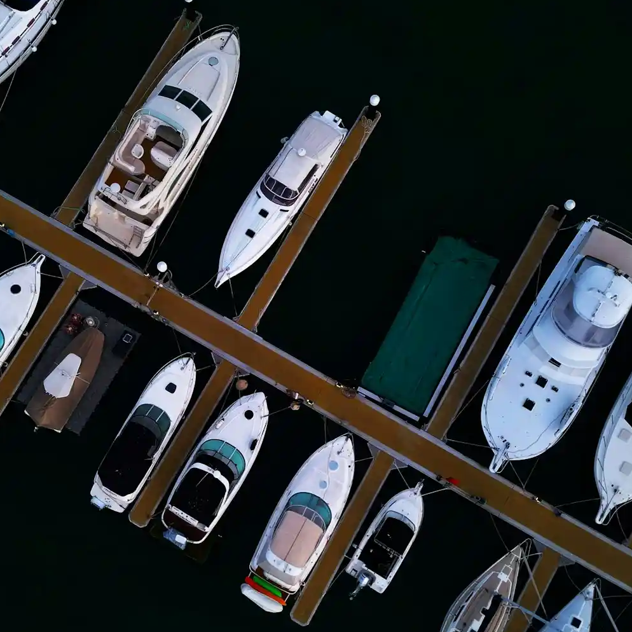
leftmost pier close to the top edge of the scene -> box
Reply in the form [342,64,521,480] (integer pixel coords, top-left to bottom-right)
[51,11,203,230]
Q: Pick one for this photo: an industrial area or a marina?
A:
marina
